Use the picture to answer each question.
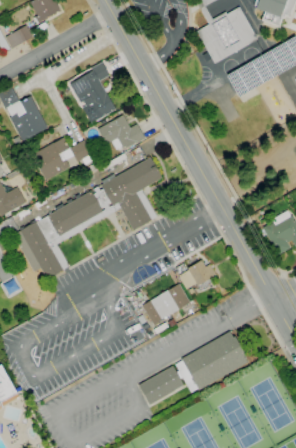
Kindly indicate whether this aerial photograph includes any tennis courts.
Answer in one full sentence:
Yes, the frame does contain a tennis court.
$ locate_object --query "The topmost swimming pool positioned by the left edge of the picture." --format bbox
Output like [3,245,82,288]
[2,278,24,298]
